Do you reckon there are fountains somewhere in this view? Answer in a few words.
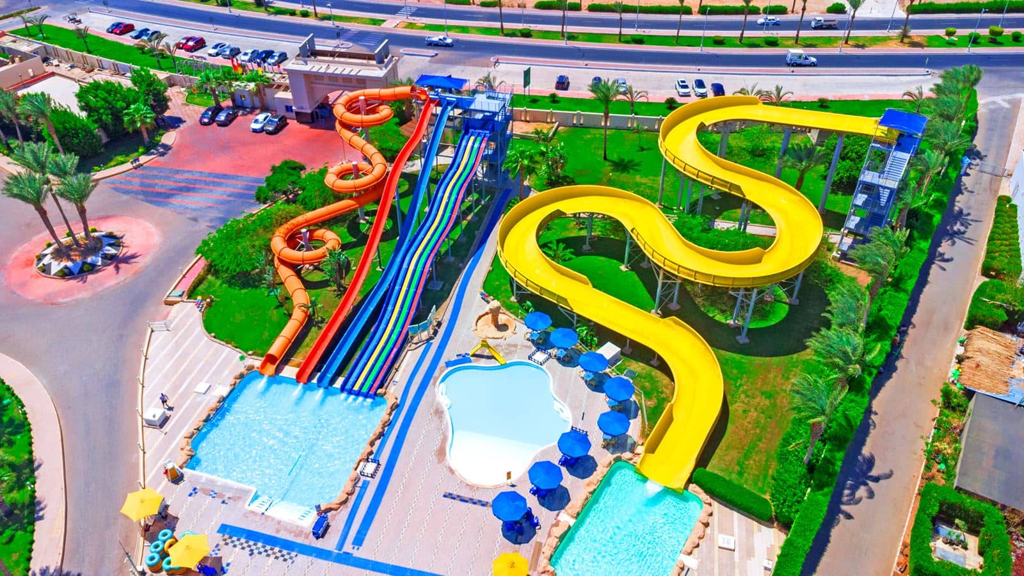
Yes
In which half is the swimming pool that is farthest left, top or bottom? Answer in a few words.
bottom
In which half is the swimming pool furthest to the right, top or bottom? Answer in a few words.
bottom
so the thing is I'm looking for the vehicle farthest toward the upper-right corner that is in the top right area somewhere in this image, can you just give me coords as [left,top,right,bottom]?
[809,13,844,28]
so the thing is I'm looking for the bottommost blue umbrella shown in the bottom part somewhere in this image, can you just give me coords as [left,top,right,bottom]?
[491,491,529,529]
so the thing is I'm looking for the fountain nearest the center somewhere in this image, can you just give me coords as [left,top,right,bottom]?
[473,301,517,340]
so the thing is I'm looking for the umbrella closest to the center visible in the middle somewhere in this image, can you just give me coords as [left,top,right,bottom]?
[524,314,552,332]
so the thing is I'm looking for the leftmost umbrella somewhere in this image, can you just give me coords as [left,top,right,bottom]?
[117,485,167,527]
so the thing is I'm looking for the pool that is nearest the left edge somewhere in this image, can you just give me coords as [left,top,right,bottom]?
[183,370,388,527]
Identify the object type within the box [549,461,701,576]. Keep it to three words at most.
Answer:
swimming pool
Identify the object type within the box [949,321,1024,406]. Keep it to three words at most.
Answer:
shed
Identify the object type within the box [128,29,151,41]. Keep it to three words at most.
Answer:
vehicle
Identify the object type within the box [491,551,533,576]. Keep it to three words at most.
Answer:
umbrella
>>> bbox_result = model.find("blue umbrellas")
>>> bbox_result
[524,314,552,332]
[597,413,630,437]
[578,353,608,376]
[527,463,564,499]
[558,433,592,466]
[604,379,635,403]
[549,329,578,348]
[491,491,529,529]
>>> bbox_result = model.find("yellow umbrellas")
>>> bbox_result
[160,531,213,575]
[491,551,533,576]
[117,485,167,527]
